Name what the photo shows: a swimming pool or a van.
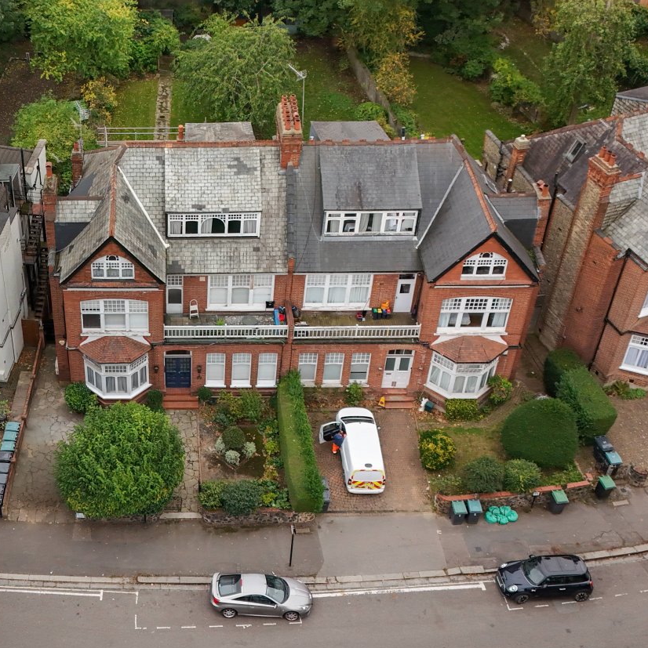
van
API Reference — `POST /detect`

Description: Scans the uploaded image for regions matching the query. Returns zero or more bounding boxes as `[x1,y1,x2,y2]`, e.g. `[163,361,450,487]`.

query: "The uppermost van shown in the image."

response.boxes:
[322,410,387,492]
